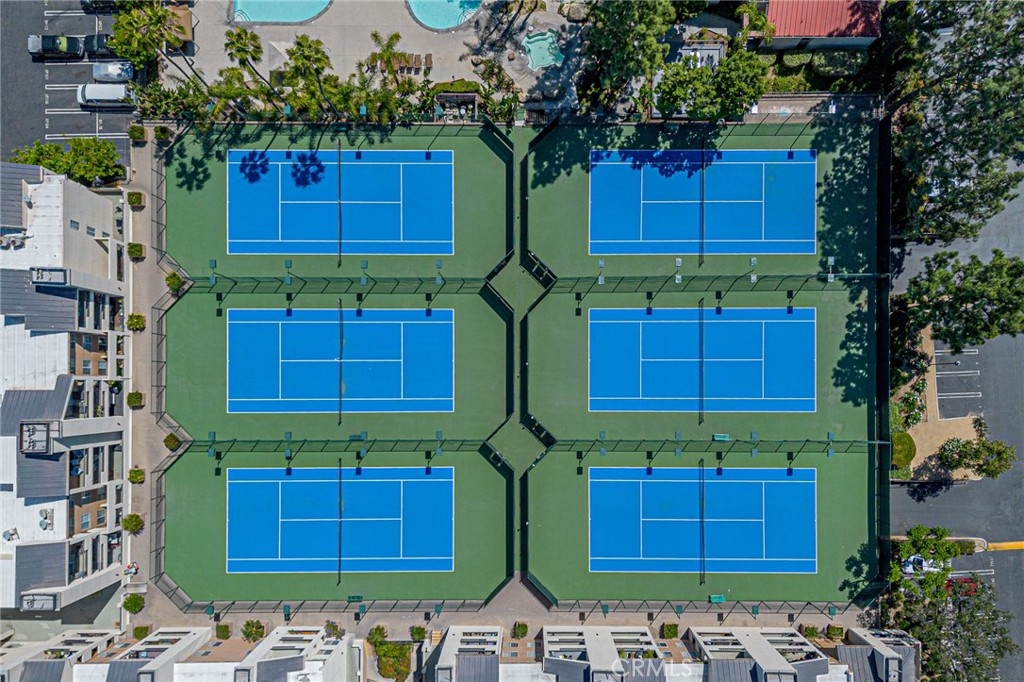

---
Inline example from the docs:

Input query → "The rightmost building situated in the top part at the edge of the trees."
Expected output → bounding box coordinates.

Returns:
[766,0,886,49]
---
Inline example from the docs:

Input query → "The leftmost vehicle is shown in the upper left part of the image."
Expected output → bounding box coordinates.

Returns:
[29,35,88,62]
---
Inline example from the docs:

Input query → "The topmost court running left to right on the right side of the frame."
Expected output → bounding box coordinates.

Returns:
[527,123,877,281]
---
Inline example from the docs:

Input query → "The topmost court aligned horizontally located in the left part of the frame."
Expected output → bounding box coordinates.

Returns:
[163,123,513,281]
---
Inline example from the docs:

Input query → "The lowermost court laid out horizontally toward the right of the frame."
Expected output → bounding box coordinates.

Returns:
[527,441,877,601]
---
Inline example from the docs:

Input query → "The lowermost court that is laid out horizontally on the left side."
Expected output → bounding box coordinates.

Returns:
[164,441,513,601]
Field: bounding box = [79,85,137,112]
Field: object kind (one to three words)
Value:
vehicle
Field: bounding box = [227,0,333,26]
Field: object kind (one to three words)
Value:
swimming pool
